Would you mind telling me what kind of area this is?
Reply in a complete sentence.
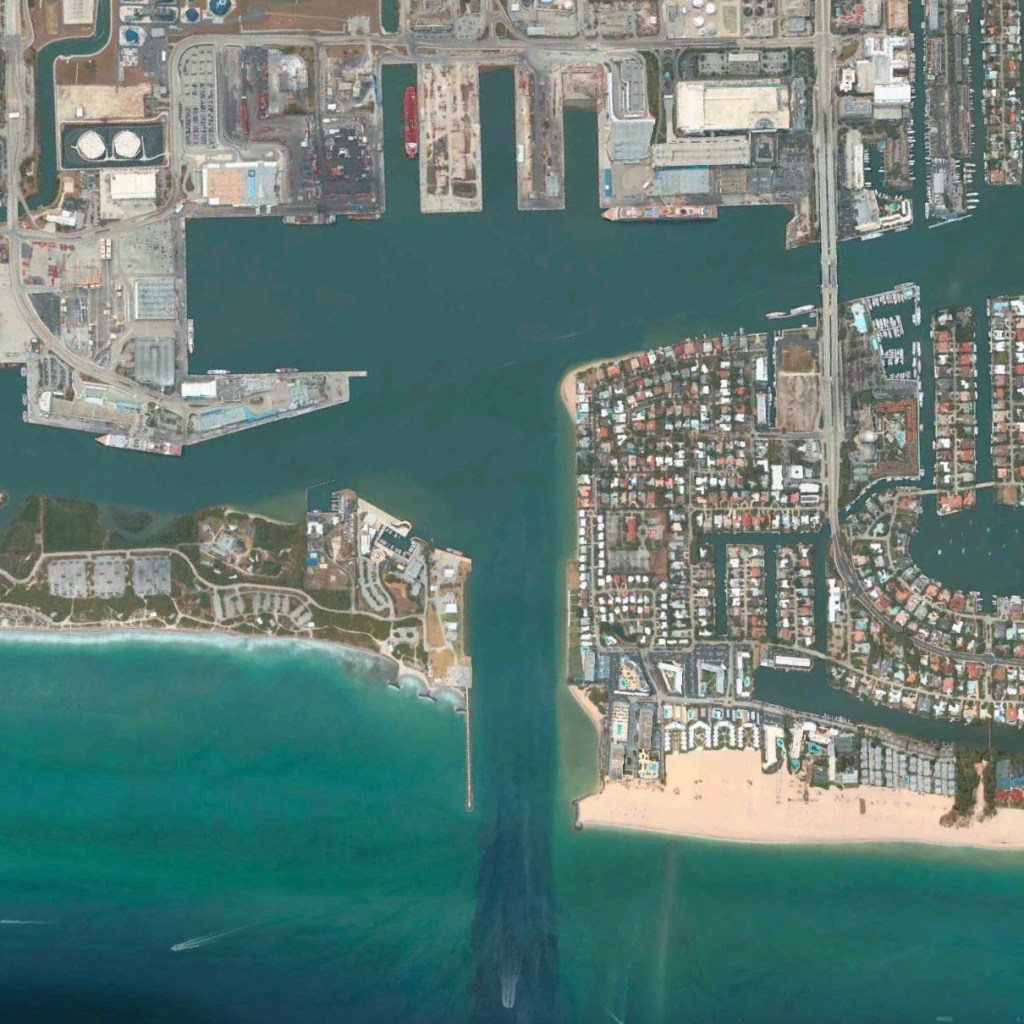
This looks like a port.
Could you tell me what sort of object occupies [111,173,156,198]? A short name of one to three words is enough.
building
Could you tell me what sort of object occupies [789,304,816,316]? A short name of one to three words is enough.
boat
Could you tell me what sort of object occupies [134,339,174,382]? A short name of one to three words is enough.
shed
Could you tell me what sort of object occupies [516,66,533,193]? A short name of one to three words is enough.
pier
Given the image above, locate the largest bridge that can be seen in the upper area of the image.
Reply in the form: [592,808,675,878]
[818,62,841,532]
